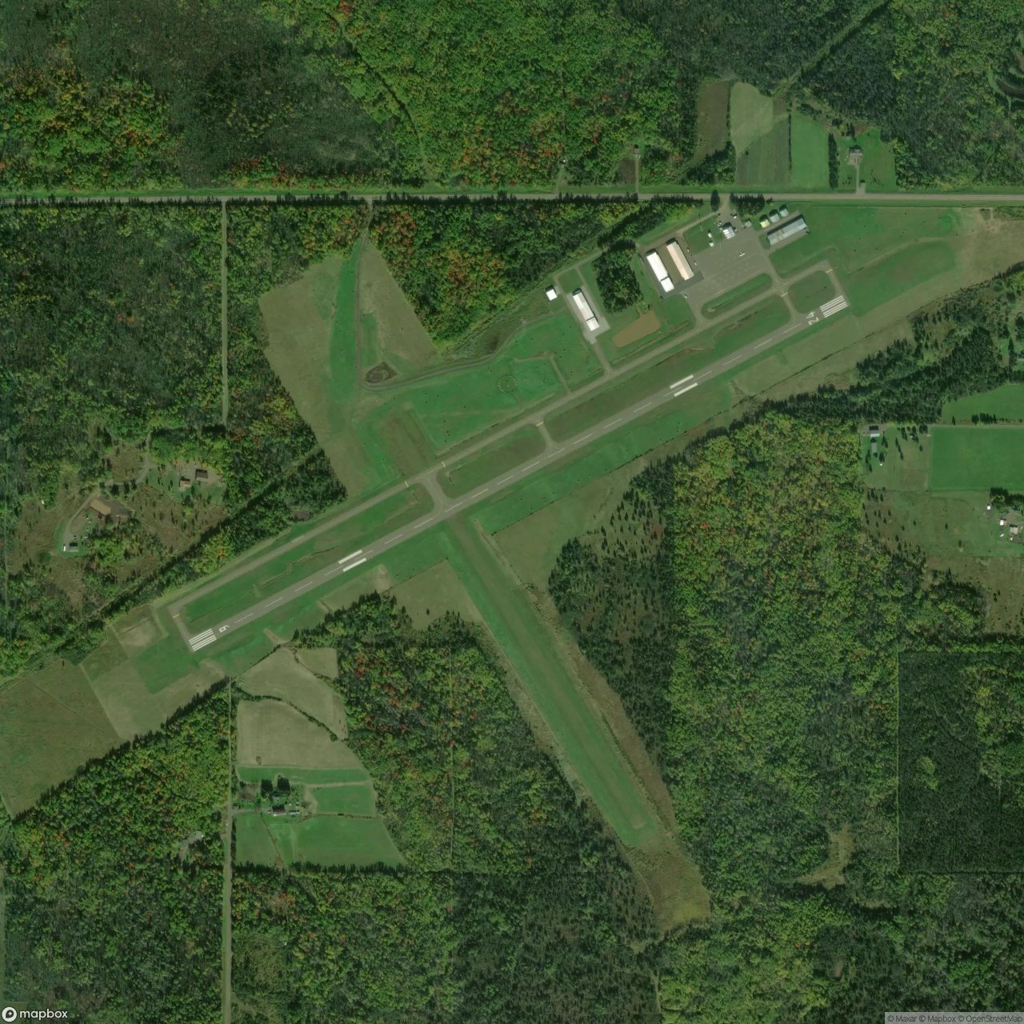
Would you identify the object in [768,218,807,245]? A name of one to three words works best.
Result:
hangar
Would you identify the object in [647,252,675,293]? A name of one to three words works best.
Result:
hangar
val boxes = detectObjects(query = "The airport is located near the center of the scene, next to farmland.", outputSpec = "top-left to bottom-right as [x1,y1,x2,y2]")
[166,199,850,848]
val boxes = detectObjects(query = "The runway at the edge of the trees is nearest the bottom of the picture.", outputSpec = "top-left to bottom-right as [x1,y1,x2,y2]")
[439,506,657,848]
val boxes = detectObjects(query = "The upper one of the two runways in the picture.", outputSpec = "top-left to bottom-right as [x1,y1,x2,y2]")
[186,294,850,653]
